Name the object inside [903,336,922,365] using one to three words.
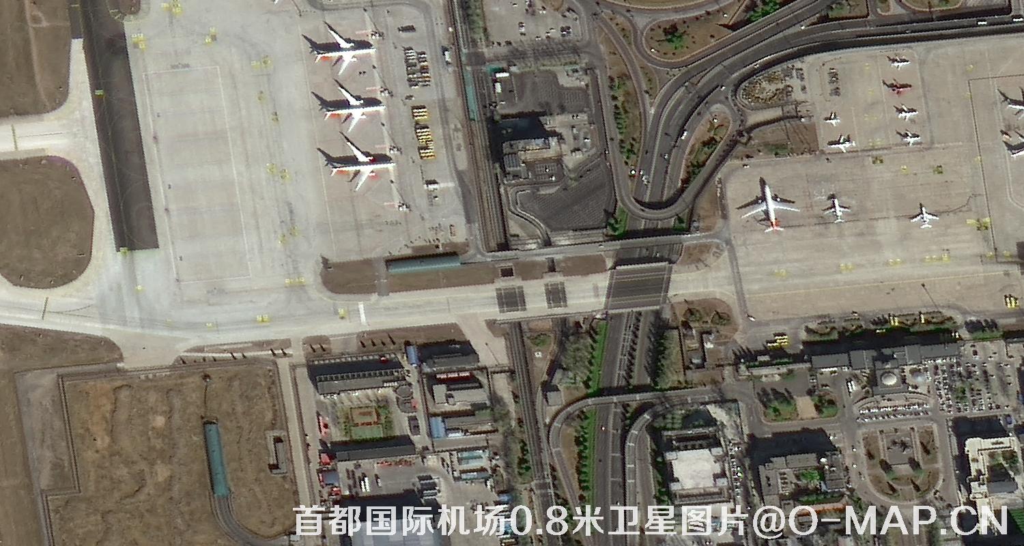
building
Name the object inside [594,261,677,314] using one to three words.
bridge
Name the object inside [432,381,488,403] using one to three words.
building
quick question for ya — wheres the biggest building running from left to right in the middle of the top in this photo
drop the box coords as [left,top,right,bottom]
[500,130,562,159]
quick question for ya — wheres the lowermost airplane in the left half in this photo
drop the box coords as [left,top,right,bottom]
[331,140,396,195]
